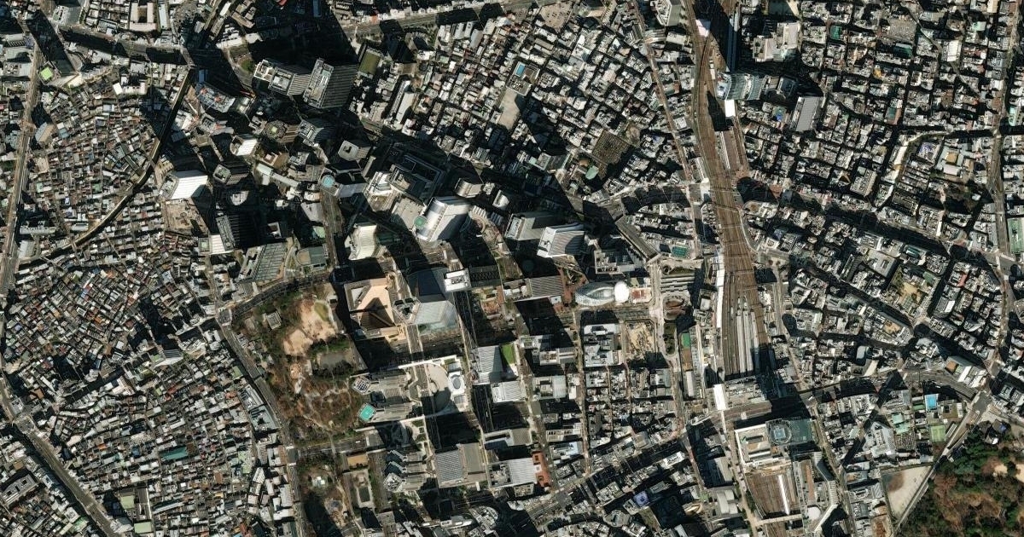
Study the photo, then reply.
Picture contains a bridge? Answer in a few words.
Yes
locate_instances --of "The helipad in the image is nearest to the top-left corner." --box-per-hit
[322,174,335,187]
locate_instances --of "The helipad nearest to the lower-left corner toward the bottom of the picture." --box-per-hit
[360,405,373,418]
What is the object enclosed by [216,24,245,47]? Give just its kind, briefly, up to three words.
building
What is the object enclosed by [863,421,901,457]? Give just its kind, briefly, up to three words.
building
